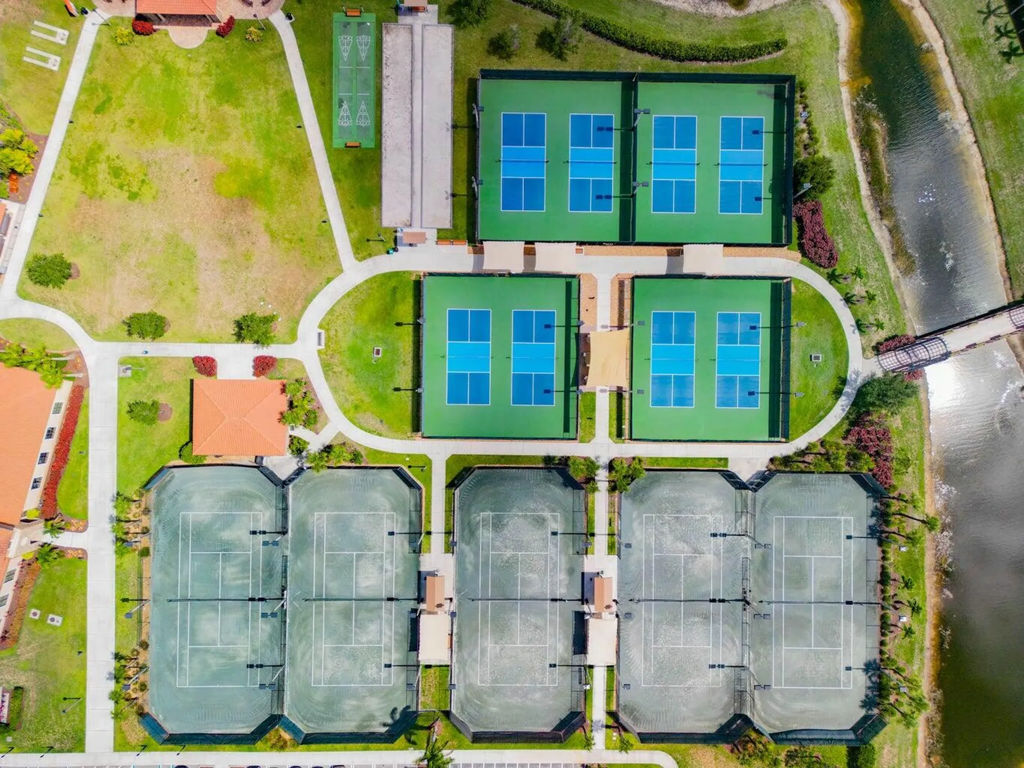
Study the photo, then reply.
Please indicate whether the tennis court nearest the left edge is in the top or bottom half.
bottom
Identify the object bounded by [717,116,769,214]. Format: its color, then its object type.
blue sports court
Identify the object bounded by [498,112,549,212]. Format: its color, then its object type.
blue sports court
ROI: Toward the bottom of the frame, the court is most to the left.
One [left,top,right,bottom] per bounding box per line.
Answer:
[148,469,285,734]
